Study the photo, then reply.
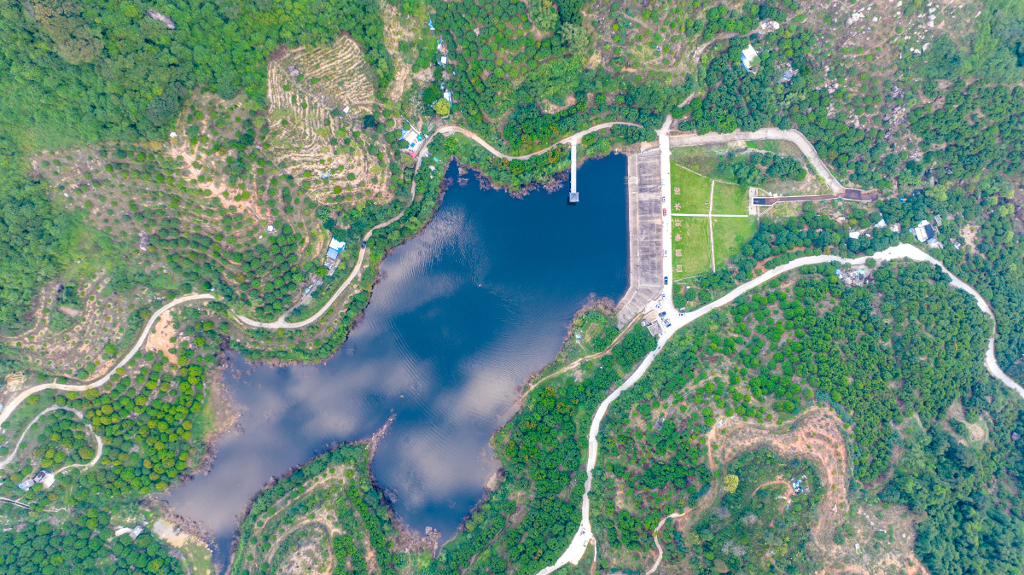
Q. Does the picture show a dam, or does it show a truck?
dam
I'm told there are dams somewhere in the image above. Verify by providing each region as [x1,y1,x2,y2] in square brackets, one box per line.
[612,134,758,331]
